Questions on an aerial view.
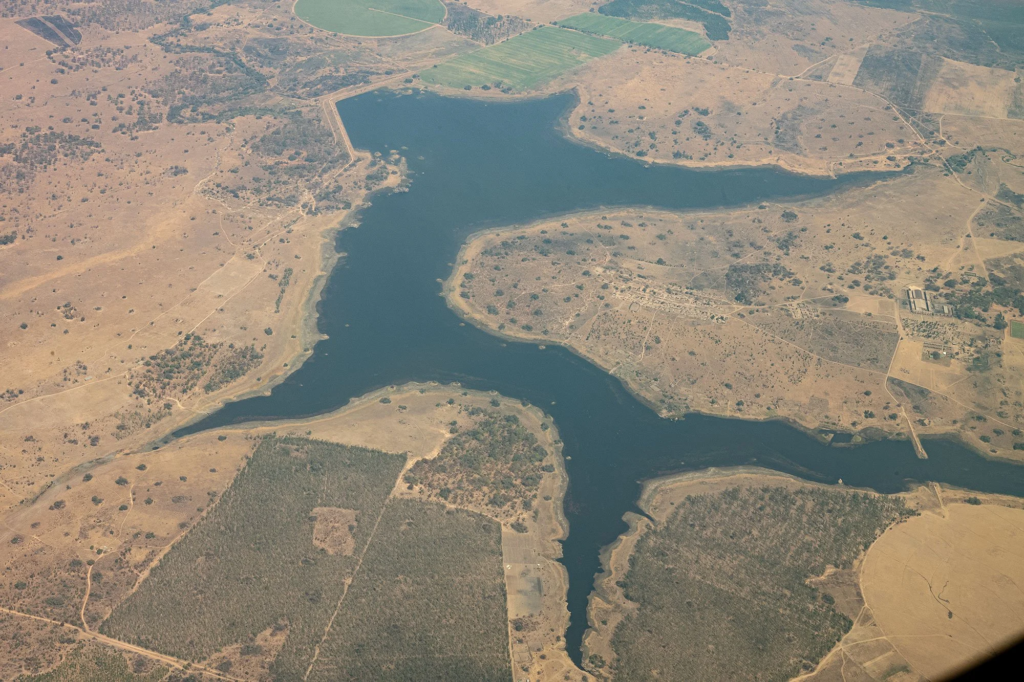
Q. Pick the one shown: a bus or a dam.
dam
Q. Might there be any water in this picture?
Yes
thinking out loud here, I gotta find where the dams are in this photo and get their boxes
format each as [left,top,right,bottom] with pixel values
[327,71,411,157]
